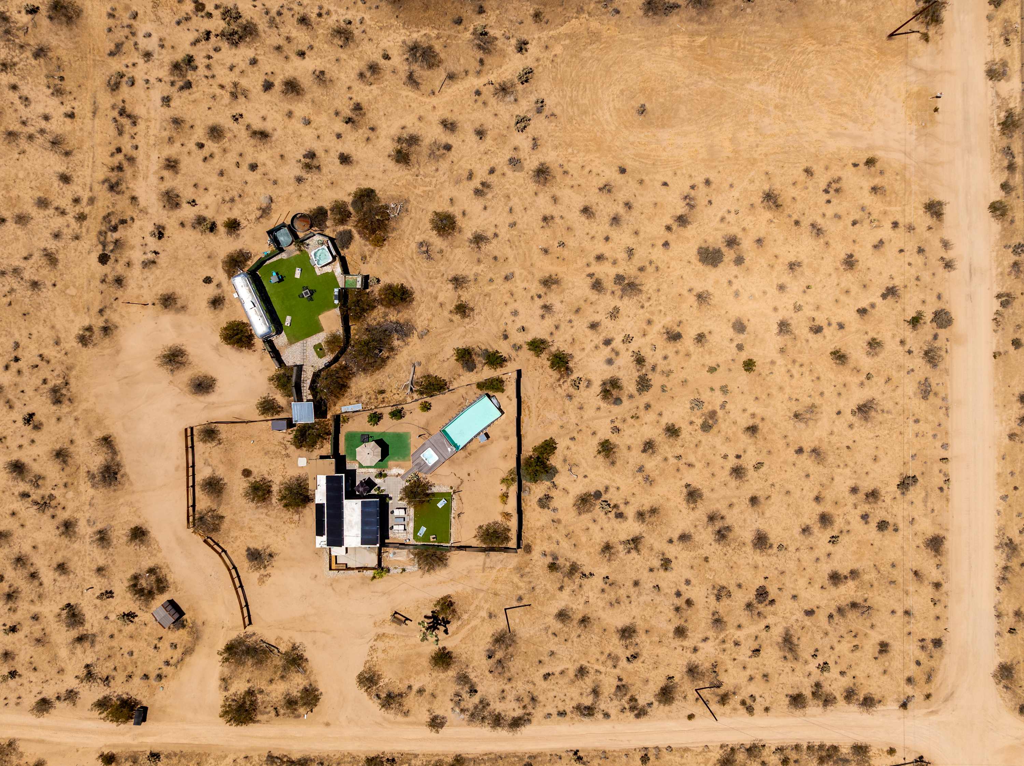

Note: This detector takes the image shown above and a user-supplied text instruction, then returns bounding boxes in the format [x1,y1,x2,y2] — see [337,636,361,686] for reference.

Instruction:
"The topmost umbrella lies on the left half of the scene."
[357,434,380,465]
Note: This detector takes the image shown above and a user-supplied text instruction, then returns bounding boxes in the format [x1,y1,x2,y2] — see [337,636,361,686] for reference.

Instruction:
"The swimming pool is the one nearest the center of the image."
[434,387,508,457]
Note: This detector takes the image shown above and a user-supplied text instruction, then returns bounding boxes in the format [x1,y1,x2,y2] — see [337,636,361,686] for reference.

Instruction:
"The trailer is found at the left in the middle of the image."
[233,268,276,341]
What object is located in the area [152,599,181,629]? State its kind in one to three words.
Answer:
shed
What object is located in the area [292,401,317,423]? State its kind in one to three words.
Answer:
shed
